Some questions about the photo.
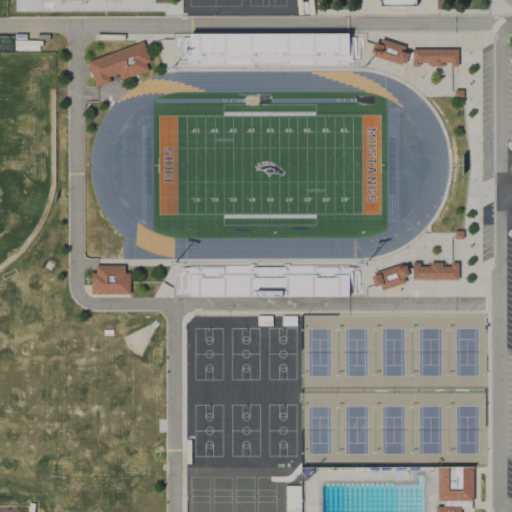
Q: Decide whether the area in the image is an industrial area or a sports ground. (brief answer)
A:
sports ground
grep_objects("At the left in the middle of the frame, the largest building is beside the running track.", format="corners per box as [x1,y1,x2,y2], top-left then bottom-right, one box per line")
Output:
[92,265,132,294]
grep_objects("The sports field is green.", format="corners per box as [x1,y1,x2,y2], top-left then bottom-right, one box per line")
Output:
[154,90,387,240]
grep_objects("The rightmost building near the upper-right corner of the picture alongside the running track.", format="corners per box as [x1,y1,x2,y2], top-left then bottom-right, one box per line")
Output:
[414,48,460,66]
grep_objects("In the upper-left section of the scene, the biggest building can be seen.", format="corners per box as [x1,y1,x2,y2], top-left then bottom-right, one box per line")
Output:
[90,42,152,86]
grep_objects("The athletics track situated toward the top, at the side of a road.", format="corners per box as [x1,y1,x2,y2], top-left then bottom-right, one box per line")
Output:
[93,72,449,258]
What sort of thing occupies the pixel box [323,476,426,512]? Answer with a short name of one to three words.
swimming pool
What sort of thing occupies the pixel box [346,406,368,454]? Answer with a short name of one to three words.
tennis court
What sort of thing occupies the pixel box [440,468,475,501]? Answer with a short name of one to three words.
building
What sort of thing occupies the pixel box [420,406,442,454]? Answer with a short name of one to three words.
tennis court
